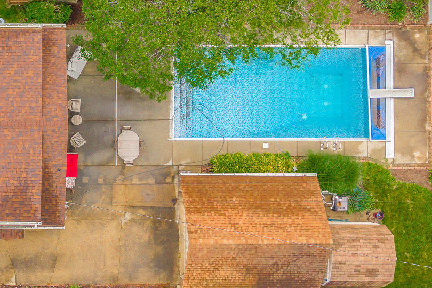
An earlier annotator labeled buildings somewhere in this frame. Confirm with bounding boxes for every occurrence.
[169,173,331,288]
[0,21,70,239]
